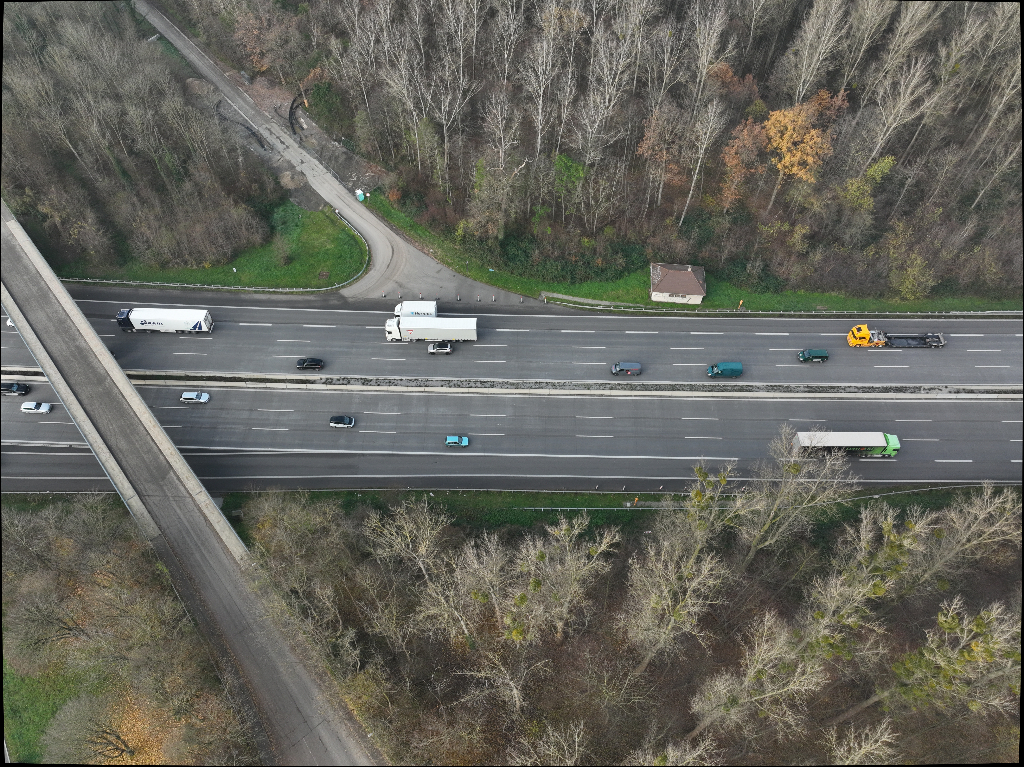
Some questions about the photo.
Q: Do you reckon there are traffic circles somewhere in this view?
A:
No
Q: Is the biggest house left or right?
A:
right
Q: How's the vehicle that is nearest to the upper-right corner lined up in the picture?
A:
horizontally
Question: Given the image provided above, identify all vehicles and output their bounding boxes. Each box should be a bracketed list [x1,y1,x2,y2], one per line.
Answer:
[20,400,54,413]
[385,317,478,342]
[706,360,744,378]
[329,414,356,428]
[611,359,642,376]
[788,432,903,459]
[297,357,325,370]
[796,349,830,363]
[392,301,438,321]
[428,341,452,354]
[115,307,215,333]
[844,323,948,347]
[446,434,469,447]
[5,318,18,328]
[179,390,211,404]
[0,381,32,395]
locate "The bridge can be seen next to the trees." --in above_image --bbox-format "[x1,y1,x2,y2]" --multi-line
[0,192,254,570]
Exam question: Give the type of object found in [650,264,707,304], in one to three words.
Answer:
house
